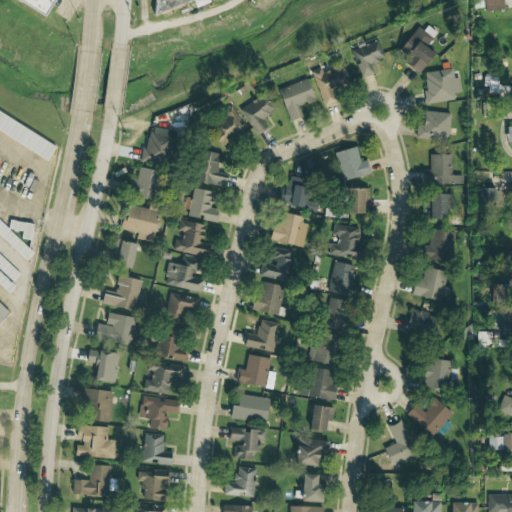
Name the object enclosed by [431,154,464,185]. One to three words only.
house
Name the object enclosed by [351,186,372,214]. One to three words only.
house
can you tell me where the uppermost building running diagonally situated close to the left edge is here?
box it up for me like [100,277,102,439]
[0,111,56,160]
